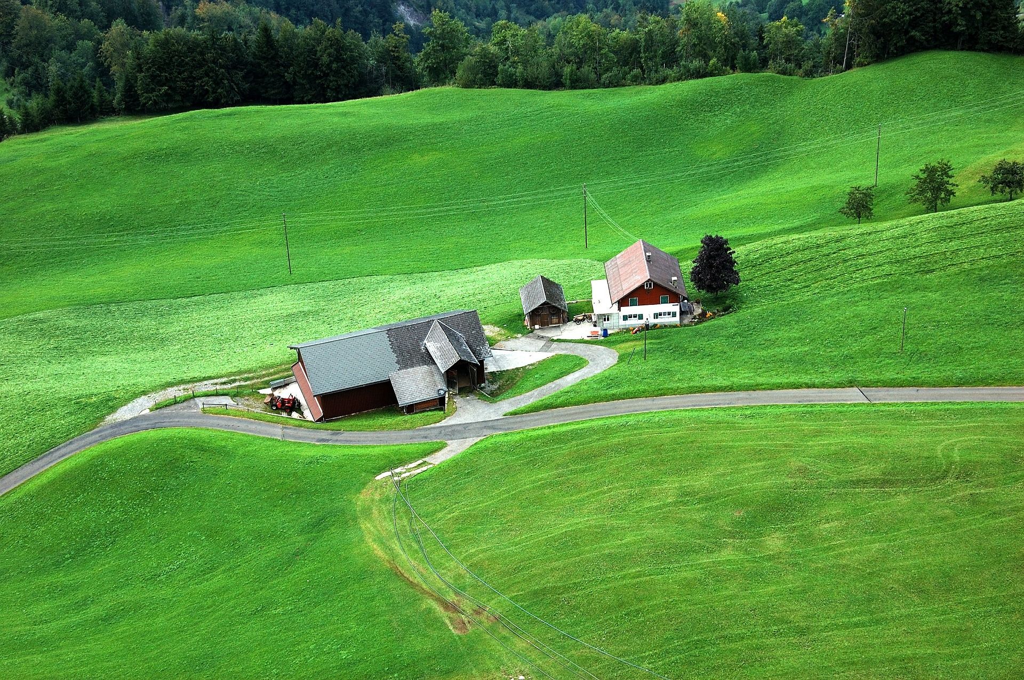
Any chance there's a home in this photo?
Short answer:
Yes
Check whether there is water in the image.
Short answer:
No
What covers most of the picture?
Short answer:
grass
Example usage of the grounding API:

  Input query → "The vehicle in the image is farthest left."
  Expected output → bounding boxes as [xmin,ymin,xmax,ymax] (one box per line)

[258,395,301,413]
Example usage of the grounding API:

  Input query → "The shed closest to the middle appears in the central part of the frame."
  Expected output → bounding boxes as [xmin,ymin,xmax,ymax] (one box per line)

[519,275,568,331]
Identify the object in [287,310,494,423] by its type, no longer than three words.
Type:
barn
